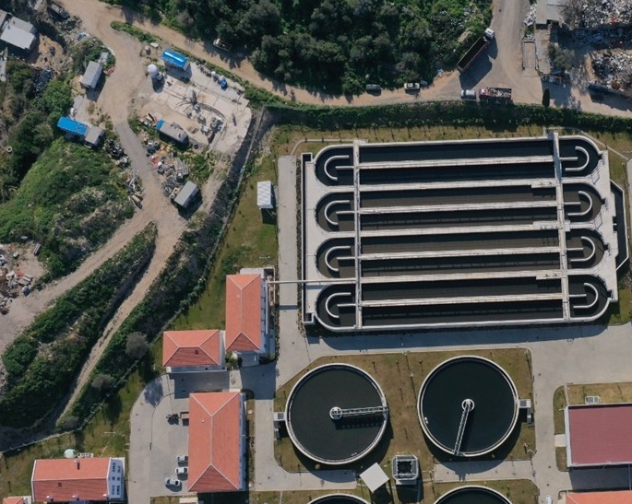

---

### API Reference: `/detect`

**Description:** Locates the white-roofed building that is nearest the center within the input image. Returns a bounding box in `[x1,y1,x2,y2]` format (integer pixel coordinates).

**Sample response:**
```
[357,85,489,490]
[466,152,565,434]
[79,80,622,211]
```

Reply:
[257,180,274,213]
